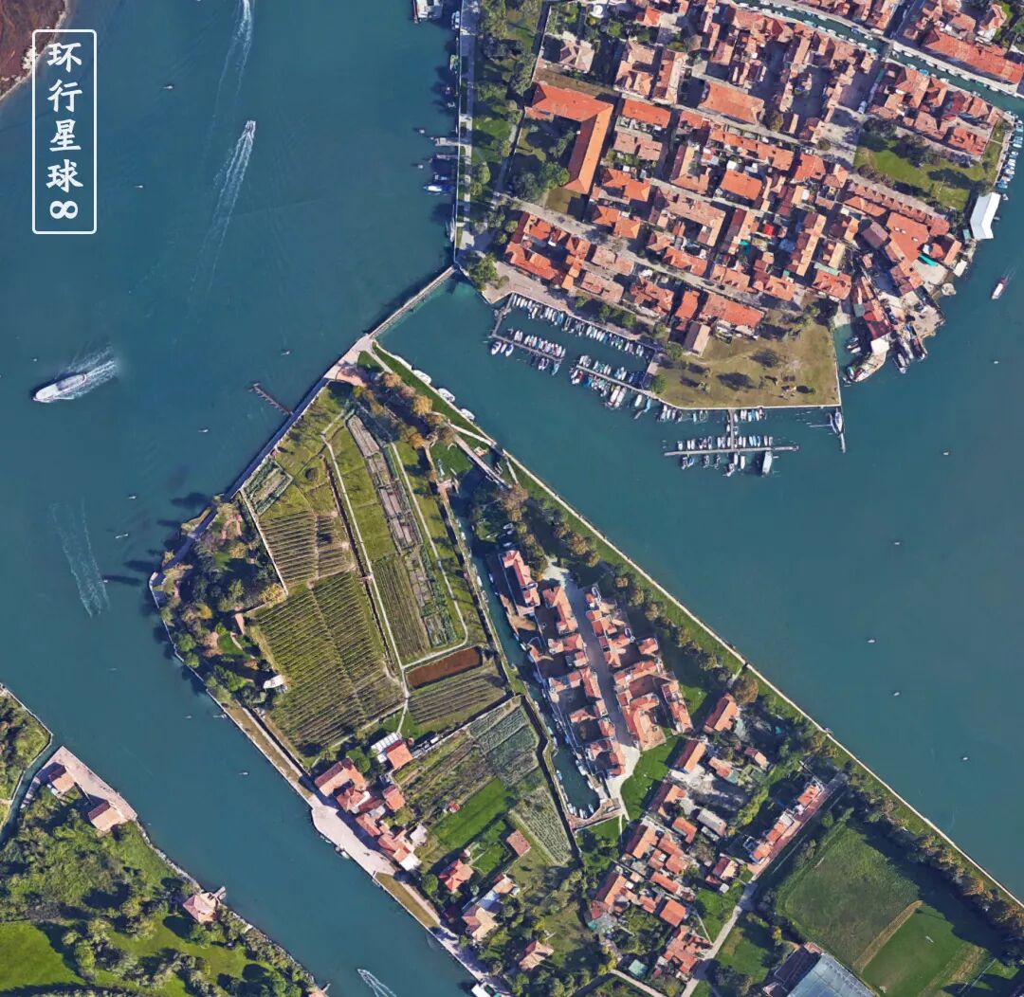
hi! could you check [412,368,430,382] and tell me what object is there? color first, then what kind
white boat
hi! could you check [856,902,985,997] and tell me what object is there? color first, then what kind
green sports field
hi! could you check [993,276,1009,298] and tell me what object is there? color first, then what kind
white vessel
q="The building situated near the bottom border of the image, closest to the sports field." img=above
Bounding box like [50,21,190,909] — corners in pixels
[788,954,876,997]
